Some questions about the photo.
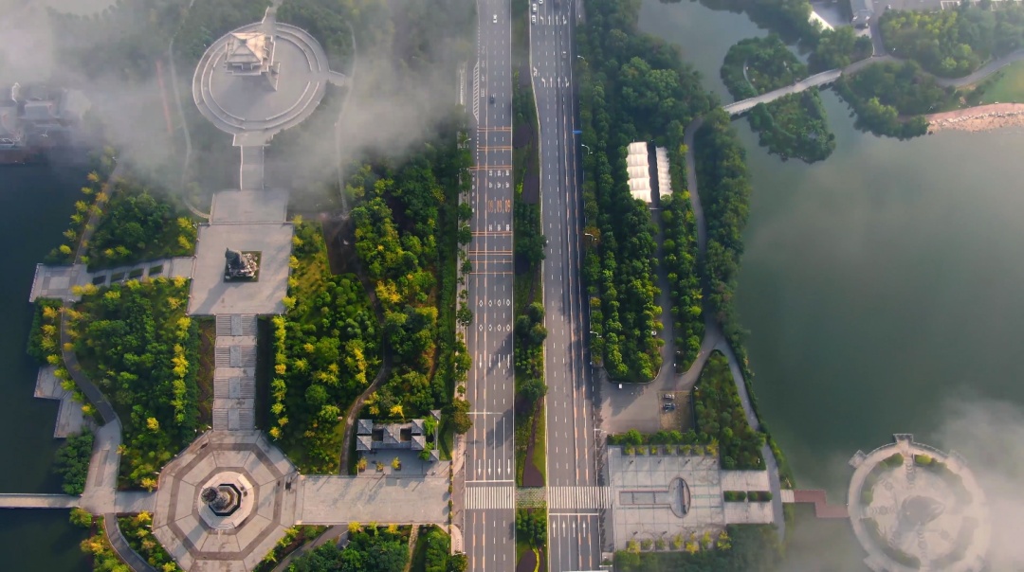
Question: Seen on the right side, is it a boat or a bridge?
bridge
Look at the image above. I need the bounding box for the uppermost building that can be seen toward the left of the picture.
[223,36,286,92]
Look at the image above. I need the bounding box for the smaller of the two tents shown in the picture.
[654,147,672,203]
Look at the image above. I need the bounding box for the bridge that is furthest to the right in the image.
[723,65,846,118]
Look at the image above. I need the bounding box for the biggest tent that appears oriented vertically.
[628,143,651,205]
